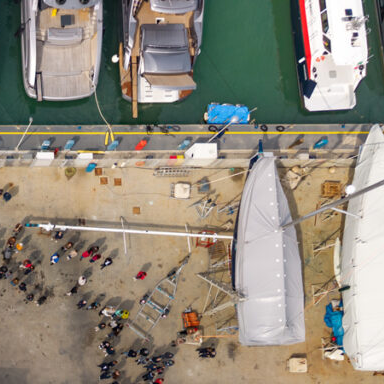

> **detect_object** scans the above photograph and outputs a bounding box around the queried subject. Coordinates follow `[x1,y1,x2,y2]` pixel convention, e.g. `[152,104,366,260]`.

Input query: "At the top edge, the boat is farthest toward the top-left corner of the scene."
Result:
[17,0,100,102]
